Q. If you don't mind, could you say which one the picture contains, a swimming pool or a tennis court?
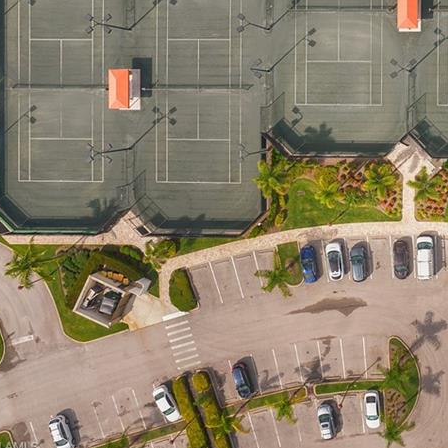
tennis court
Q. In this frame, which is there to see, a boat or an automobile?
automobile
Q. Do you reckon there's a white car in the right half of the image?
Yes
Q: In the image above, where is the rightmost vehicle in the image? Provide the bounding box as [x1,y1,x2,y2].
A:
[416,236,434,280]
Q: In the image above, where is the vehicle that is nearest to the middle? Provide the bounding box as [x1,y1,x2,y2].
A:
[299,244,318,283]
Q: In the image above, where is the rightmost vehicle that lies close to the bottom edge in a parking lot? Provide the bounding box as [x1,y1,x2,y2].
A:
[364,391,382,428]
